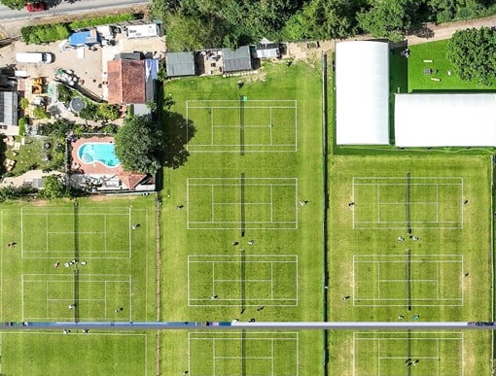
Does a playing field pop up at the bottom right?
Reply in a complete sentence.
No, no playing field is visible at the bottom right.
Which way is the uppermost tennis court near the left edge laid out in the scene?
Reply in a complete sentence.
I'd say the uppermost tennis court near the left edge is aligned horizontally in the picture.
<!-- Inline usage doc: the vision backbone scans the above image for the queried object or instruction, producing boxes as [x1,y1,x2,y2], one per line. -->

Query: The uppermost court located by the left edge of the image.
[22,207,131,259]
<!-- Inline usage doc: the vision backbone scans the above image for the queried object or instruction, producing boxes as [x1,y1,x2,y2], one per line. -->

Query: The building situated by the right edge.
[395,93,496,148]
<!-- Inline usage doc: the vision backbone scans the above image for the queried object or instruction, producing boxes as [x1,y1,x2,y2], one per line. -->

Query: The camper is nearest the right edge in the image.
[128,24,160,40]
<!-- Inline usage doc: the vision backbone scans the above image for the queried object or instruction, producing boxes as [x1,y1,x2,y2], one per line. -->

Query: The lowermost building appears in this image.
[119,173,151,190]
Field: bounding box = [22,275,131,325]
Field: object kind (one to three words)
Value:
tennis court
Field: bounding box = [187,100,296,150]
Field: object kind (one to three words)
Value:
tennis court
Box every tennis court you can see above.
[353,255,463,305]
[187,100,296,150]
[22,207,131,259]
[188,333,298,376]
[187,255,298,305]
[187,178,296,229]
[22,275,131,325]
[353,333,463,376]
[353,178,463,228]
